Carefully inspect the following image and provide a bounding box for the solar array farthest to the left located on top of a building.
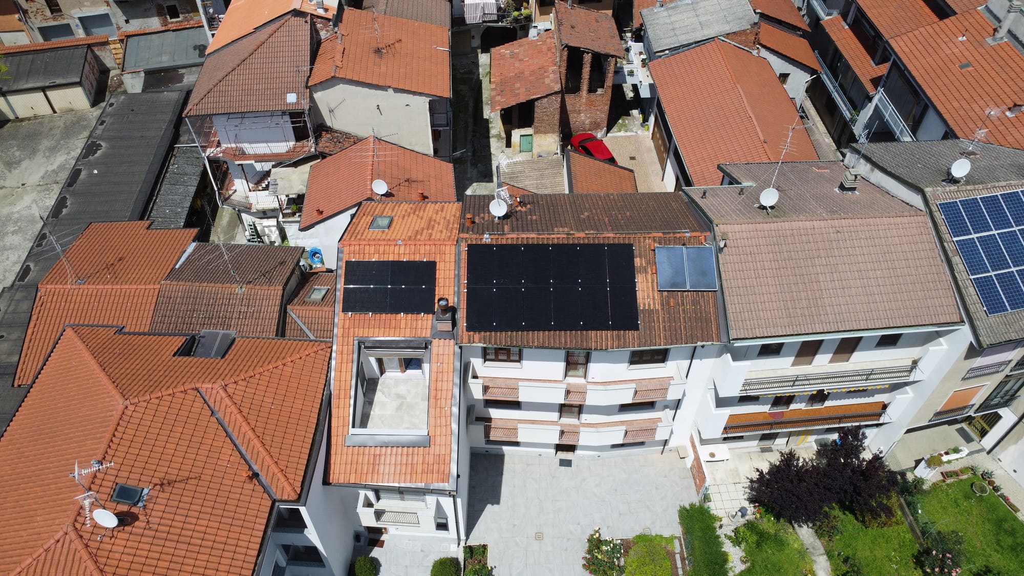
[341,258,436,315]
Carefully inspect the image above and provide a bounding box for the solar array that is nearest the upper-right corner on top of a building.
[940,188,1024,314]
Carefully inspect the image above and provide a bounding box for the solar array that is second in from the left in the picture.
[466,242,642,330]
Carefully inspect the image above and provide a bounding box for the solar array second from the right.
[656,244,719,289]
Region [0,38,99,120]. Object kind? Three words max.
building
